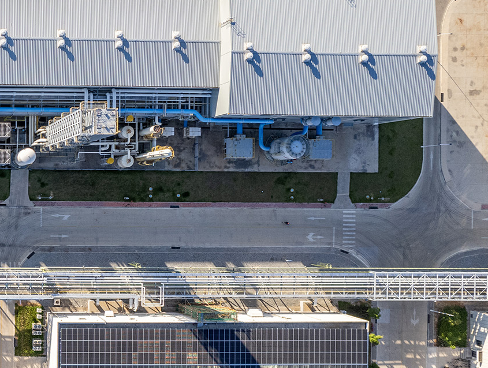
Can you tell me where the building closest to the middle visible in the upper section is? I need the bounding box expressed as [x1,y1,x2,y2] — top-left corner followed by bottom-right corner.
[216,123,256,158]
